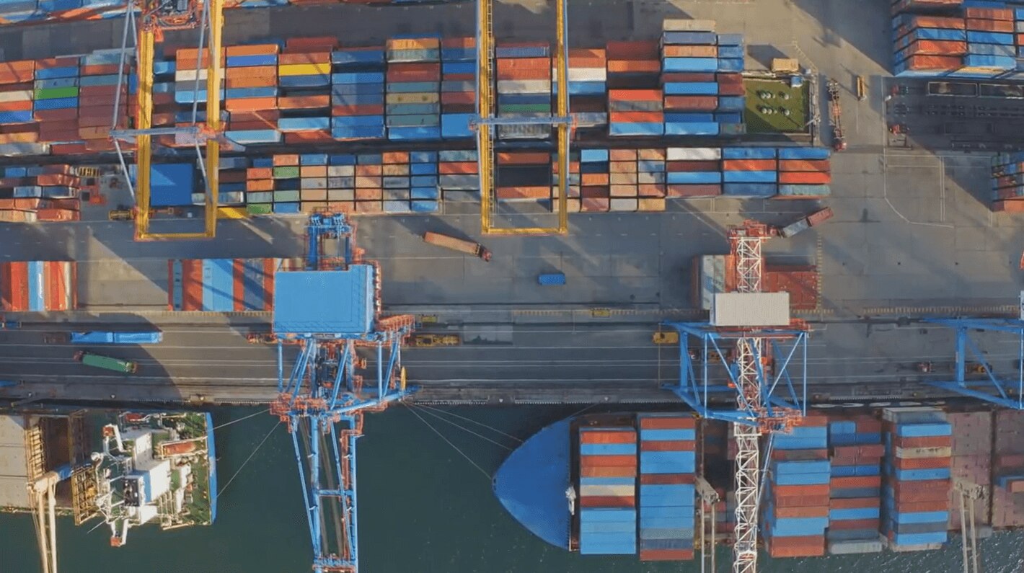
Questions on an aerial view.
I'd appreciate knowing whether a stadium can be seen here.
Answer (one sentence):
No, I can see no stadium in this picture.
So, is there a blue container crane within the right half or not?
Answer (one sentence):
Yes, a blue container crane appears within the right half.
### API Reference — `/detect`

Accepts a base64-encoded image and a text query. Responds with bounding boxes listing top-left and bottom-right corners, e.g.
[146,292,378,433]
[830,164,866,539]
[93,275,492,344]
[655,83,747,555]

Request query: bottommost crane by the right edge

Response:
[954,472,1022,573]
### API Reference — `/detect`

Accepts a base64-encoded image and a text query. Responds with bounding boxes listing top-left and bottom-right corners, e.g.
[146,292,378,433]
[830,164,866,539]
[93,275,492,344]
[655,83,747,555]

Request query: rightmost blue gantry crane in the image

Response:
[910,292,1024,421]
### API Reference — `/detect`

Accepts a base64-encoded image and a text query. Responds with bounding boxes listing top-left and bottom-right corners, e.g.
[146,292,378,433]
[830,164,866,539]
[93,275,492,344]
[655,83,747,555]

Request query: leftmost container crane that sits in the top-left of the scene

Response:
[104,0,265,243]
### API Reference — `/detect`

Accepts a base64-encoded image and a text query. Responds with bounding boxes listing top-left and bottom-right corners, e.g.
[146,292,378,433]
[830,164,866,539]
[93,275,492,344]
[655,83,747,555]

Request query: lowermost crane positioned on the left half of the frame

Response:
[26,463,97,573]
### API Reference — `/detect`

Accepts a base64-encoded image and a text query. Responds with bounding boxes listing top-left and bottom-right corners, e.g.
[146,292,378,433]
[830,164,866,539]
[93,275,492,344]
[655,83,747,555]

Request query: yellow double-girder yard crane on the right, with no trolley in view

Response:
[470,0,581,238]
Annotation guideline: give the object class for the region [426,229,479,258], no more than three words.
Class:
shipping container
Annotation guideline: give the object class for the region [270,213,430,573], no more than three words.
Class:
container crane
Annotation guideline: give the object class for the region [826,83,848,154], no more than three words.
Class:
truck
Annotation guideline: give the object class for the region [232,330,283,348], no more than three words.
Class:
work vehicle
